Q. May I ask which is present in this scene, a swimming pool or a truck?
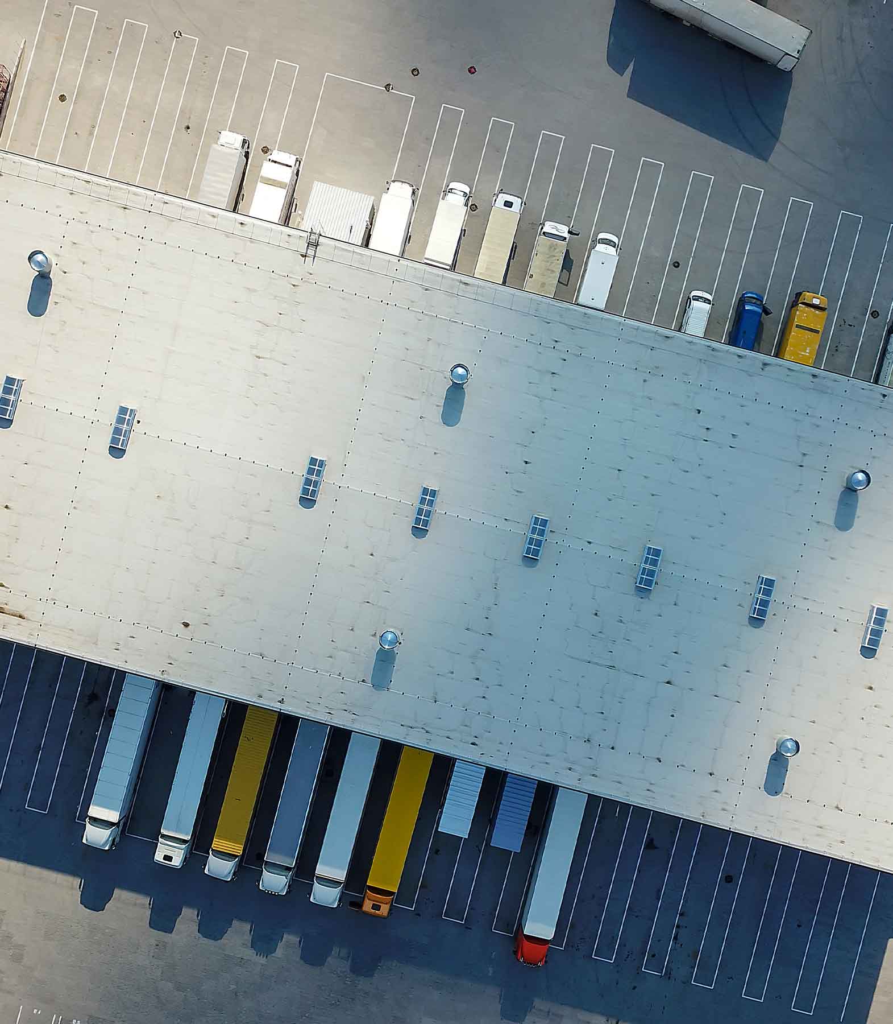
truck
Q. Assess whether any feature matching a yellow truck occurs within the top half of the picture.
Yes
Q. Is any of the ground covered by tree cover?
No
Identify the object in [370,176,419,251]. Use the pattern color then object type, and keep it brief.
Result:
white truck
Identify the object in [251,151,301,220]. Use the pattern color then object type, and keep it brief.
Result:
white truck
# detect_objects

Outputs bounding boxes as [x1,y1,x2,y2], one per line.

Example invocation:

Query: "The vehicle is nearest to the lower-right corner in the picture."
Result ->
[511,787,591,965]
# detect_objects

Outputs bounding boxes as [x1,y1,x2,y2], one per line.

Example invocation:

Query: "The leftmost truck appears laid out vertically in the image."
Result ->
[84,673,164,848]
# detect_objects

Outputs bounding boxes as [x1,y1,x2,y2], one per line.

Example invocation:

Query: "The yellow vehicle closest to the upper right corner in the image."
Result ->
[780,292,828,360]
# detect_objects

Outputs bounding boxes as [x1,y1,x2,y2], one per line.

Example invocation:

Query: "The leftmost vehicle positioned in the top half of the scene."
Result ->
[198,131,251,206]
